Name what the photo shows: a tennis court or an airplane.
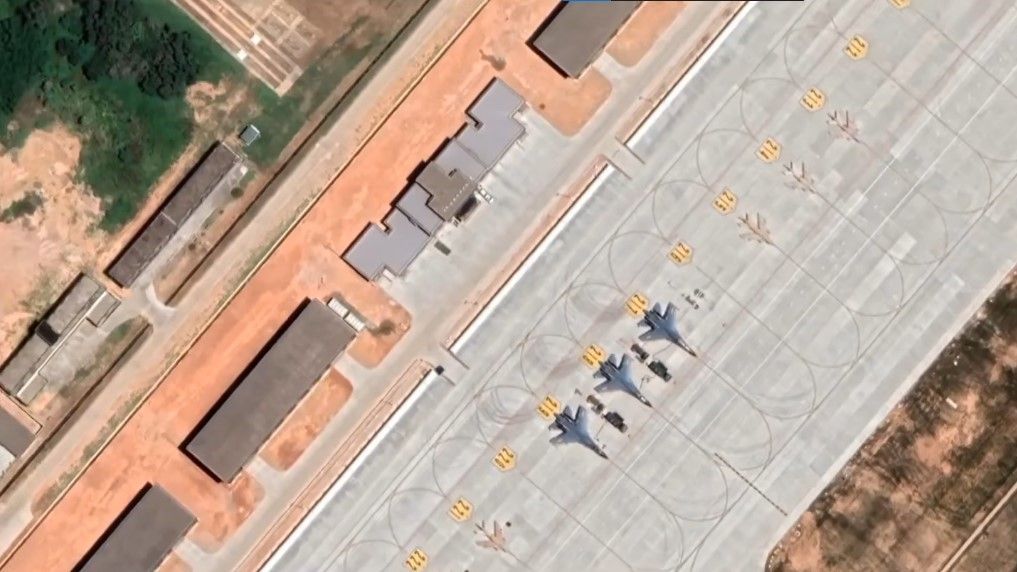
airplane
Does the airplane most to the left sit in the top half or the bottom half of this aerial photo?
bottom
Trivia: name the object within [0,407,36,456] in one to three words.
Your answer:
building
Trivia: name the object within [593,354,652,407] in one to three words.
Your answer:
airplane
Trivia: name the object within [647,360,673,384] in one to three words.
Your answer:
truck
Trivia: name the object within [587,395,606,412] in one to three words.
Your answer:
vehicle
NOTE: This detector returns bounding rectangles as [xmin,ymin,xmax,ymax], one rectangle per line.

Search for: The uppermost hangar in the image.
[533,0,645,80]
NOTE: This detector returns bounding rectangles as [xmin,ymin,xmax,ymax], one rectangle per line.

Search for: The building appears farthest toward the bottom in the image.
[79,483,200,572]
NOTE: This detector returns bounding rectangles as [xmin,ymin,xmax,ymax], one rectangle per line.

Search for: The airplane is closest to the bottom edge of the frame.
[471,517,508,551]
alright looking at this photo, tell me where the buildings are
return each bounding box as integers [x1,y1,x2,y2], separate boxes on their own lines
[0,447,16,480]
[343,78,525,281]
[533,0,645,80]
[345,312,365,332]
[328,298,348,317]
[108,143,247,287]
[186,298,359,485]
[240,124,260,145]
[0,407,36,456]
[79,483,200,572]
[0,274,120,405]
